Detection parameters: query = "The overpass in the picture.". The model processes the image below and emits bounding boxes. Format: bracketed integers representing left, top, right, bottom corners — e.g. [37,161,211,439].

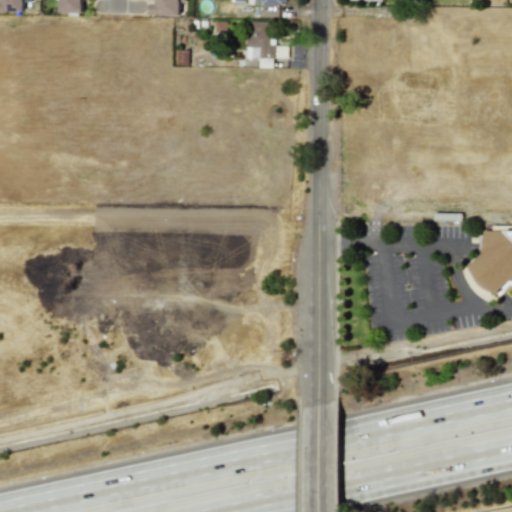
[296,372,340,512]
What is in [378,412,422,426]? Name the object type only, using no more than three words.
vehicle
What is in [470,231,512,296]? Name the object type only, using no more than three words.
building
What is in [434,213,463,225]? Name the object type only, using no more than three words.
building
